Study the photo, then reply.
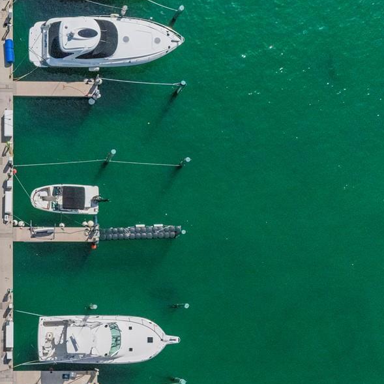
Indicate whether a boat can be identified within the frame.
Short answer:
Yes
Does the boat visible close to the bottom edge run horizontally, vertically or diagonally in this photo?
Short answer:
horizontally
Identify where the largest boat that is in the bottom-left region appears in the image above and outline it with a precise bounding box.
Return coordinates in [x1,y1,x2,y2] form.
[14,311,180,368]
